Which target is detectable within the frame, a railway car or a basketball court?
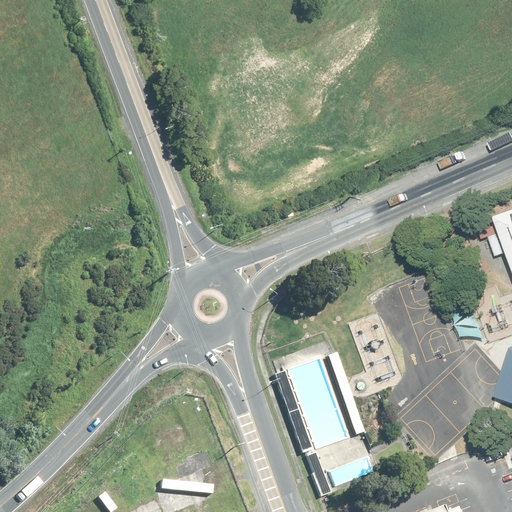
basketball court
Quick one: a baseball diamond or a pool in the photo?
pool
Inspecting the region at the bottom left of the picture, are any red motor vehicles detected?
No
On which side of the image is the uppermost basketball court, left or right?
right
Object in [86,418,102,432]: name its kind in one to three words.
car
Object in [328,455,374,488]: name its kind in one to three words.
swimming pool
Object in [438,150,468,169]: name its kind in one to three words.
vehicle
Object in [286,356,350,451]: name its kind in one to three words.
swimming pool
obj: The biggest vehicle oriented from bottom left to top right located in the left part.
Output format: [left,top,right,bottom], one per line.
[16,477,44,502]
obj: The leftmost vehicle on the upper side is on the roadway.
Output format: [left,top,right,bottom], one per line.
[387,192,408,206]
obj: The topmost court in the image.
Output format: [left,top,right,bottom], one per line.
[398,275,461,362]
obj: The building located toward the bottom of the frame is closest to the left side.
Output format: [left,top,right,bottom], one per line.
[276,371,312,454]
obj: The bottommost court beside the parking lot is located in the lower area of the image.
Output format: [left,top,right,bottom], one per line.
[402,348,500,456]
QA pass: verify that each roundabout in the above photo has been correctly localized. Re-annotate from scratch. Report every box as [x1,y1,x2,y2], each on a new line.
[193,288,228,324]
